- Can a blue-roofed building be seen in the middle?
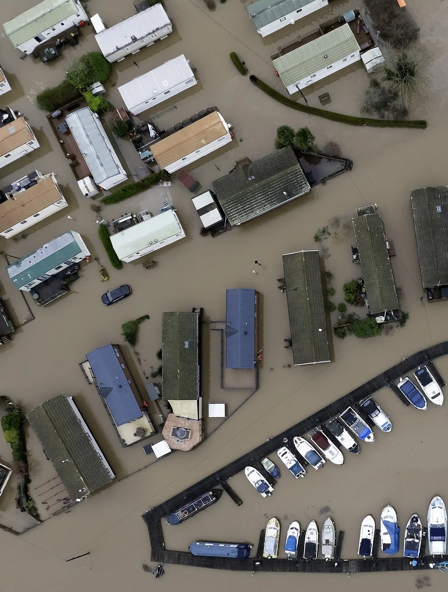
Yes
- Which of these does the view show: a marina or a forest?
marina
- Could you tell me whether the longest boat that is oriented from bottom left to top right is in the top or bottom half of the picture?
bottom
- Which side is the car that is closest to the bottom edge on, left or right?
left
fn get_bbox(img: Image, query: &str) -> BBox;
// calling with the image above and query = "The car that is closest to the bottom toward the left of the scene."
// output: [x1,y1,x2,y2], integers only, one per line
[102,284,135,306]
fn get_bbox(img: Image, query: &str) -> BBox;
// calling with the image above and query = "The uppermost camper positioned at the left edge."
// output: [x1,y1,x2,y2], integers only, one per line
[3,0,84,54]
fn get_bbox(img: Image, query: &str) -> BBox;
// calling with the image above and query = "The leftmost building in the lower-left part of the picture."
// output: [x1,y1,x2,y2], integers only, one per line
[26,393,117,504]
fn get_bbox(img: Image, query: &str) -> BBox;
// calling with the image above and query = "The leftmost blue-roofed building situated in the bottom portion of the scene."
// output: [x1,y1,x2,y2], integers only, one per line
[86,344,147,426]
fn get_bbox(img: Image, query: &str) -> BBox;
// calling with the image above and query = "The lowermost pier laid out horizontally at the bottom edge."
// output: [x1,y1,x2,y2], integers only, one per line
[150,548,448,572]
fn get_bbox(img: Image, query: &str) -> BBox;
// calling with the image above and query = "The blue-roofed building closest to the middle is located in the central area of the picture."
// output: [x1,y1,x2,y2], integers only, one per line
[226,288,257,369]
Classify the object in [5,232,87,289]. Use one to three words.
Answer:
camper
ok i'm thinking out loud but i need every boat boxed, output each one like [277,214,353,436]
[398,377,426,410]
[294,437,326,467]
[167,487,225,524]
[428,496,447,558]
[264,458,280,478]
[341,407,374,443]
[360,398,390,431]
[284,521,300,556]
[160,205,173,211]
[189,538,252,558]
[304,520,319,558]
[279,447,305,477]
[308,427,342,464]
[328,418,360,453]
[320,518,337,561]
[155,560,166,579]
[380,505,400,558]
[245,466,273,496]
[404,514,422,557]
[414,364,443,405]
[358,514,375,559]
[265,517,280,560]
